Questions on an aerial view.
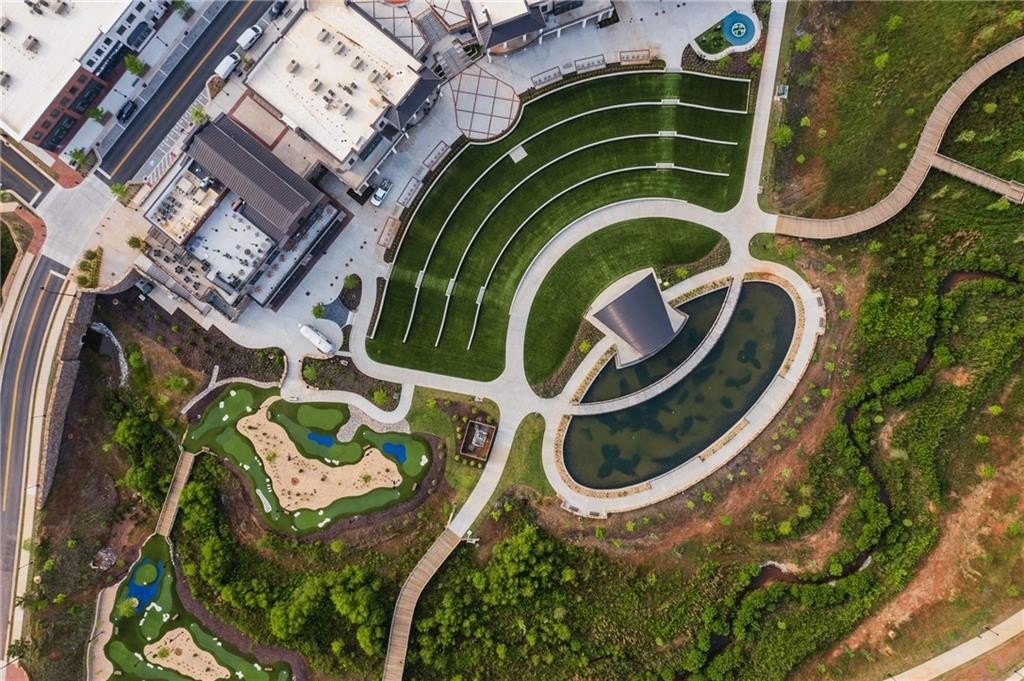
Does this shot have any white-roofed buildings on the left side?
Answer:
Yes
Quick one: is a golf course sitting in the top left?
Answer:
No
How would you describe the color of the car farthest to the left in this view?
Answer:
black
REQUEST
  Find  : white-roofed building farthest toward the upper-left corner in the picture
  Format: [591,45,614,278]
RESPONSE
[0,0,176,155]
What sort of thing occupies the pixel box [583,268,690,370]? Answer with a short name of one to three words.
building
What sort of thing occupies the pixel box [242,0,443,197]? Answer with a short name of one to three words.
building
